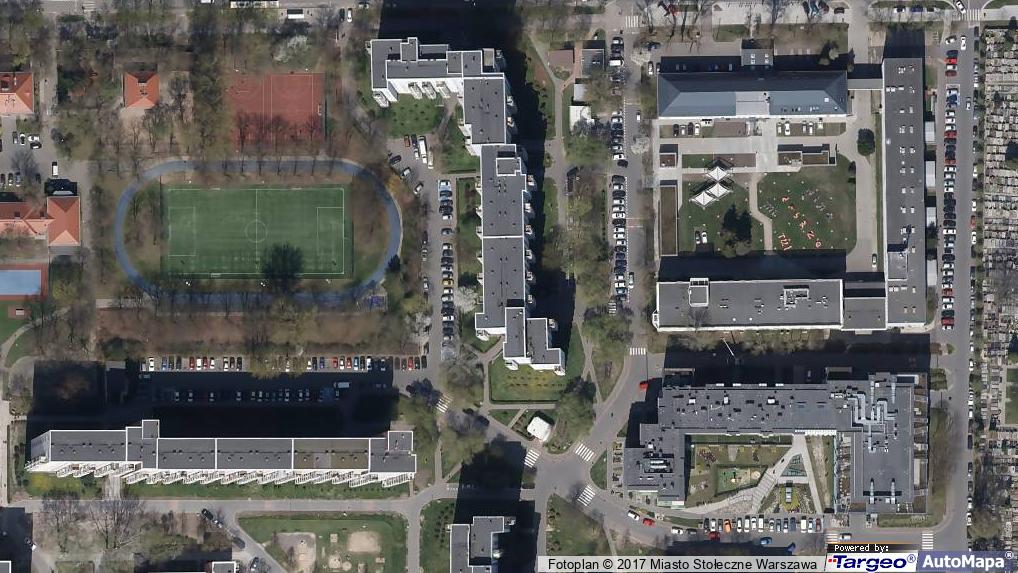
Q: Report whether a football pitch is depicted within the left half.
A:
Yes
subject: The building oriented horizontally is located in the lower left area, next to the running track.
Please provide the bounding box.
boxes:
[26,419,417,489]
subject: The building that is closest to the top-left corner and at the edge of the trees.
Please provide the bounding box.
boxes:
[0,72,34,115]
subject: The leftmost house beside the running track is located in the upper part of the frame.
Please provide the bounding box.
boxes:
[0,191,82,256]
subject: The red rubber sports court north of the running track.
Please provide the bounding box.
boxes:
[228,73,325,142]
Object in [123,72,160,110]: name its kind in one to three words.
house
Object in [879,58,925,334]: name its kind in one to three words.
building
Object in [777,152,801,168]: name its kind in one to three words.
building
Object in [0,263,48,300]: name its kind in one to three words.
sports court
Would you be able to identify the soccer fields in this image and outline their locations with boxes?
[161,184,353,278]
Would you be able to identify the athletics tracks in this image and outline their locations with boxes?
[113,158,404,306]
